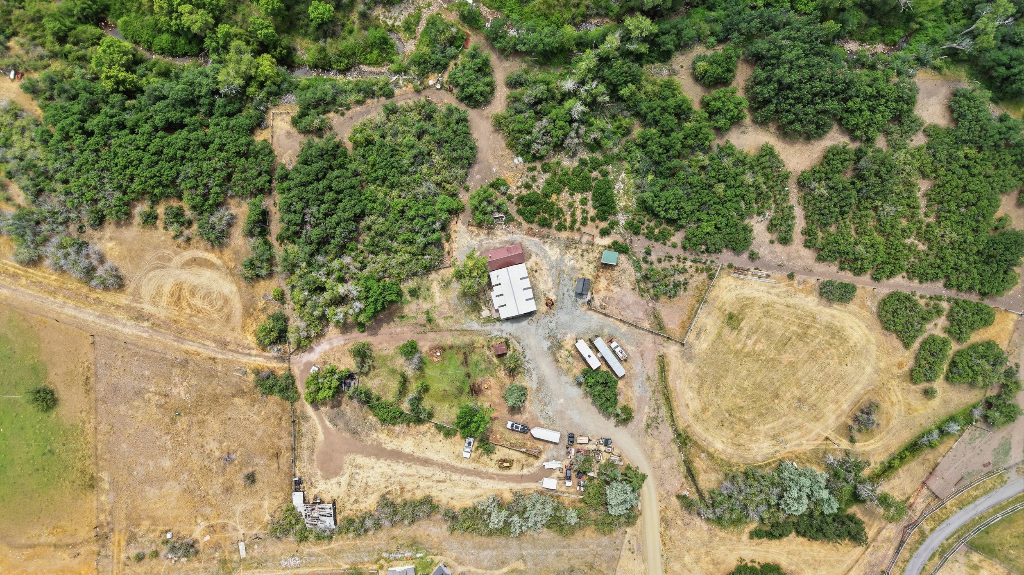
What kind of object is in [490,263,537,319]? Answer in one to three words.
house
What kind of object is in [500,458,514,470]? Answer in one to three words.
vehicle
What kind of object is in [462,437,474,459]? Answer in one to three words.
vehicle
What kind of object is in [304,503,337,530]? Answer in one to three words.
barn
